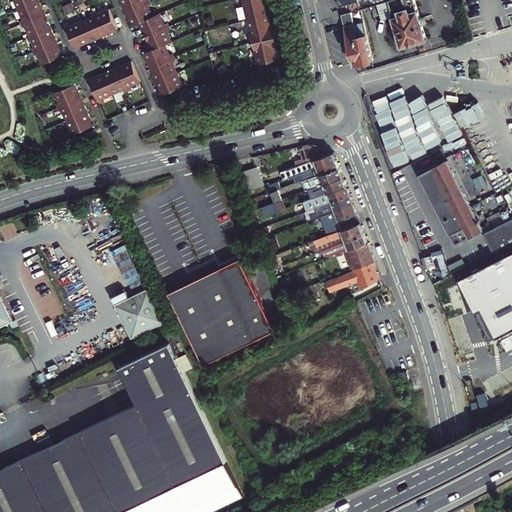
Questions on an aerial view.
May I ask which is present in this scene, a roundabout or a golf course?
roundabout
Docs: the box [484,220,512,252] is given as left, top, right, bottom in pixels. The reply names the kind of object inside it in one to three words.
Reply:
building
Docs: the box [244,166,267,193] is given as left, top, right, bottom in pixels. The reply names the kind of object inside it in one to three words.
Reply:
shed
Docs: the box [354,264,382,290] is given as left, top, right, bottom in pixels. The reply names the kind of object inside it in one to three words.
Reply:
house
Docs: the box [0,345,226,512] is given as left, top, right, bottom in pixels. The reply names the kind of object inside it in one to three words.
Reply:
warehouse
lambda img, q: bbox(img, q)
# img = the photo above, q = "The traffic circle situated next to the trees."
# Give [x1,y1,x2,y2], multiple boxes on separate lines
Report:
[299,78,364,144]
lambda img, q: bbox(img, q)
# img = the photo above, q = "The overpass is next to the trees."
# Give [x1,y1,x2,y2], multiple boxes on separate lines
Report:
[320,414,512,512]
